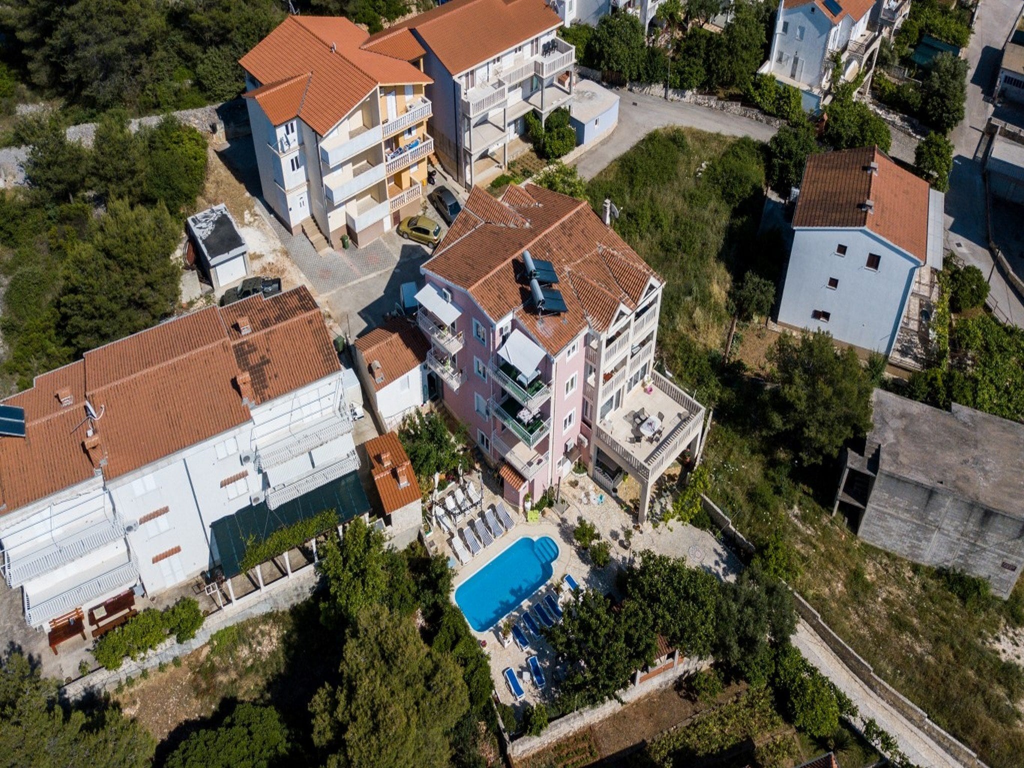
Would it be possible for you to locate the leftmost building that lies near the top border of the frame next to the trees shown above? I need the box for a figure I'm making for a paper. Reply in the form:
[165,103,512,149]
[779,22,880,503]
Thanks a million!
[236,1,447,261]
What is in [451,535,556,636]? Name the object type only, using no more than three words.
swimming pool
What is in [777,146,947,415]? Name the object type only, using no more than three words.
house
